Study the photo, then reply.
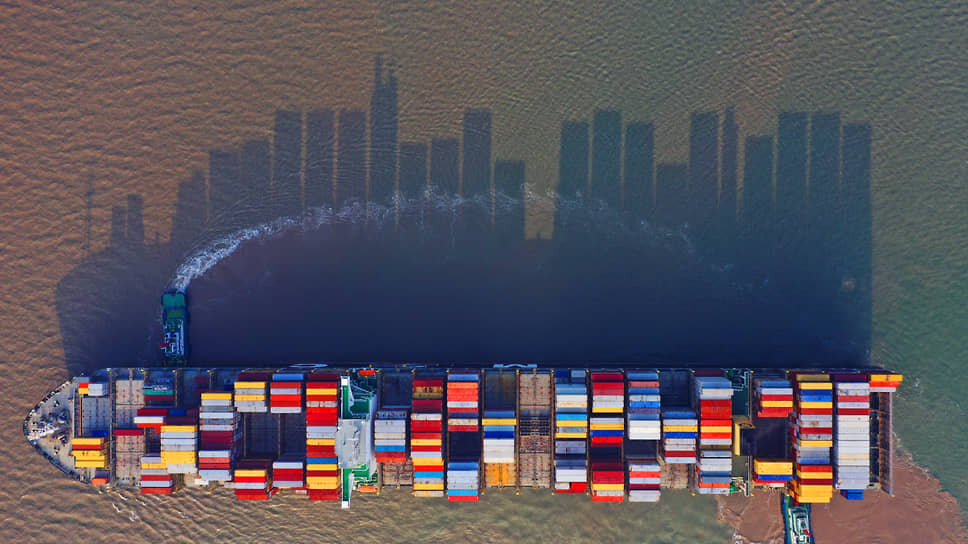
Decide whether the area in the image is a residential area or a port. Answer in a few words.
port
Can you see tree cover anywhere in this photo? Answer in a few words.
No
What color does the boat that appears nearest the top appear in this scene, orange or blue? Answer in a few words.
blue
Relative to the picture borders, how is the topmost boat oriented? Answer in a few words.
up and down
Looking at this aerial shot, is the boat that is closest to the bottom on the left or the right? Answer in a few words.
right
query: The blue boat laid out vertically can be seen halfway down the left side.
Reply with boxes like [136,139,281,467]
[157,290,190,366]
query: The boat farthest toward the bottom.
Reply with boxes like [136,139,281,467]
[784,489,819,544]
